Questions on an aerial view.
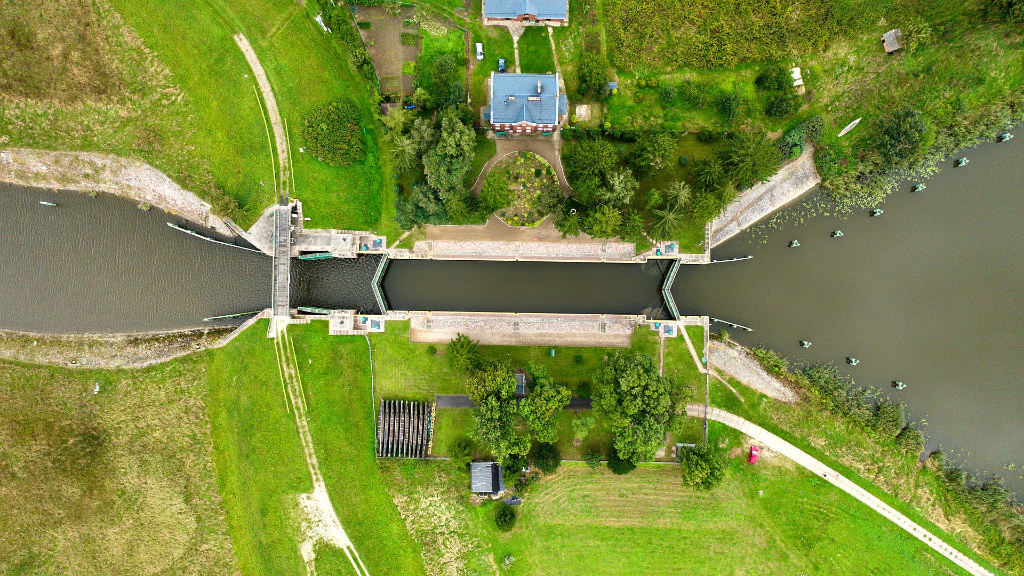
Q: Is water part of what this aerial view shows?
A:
Yes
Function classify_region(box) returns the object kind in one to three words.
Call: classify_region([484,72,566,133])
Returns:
house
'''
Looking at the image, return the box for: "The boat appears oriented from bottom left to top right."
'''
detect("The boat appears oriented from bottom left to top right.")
[840,117,862,135]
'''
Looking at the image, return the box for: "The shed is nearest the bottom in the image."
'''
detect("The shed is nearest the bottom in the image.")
[471,460,505,496]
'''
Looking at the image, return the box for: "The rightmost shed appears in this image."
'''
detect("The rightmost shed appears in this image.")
[881,27,907,52]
